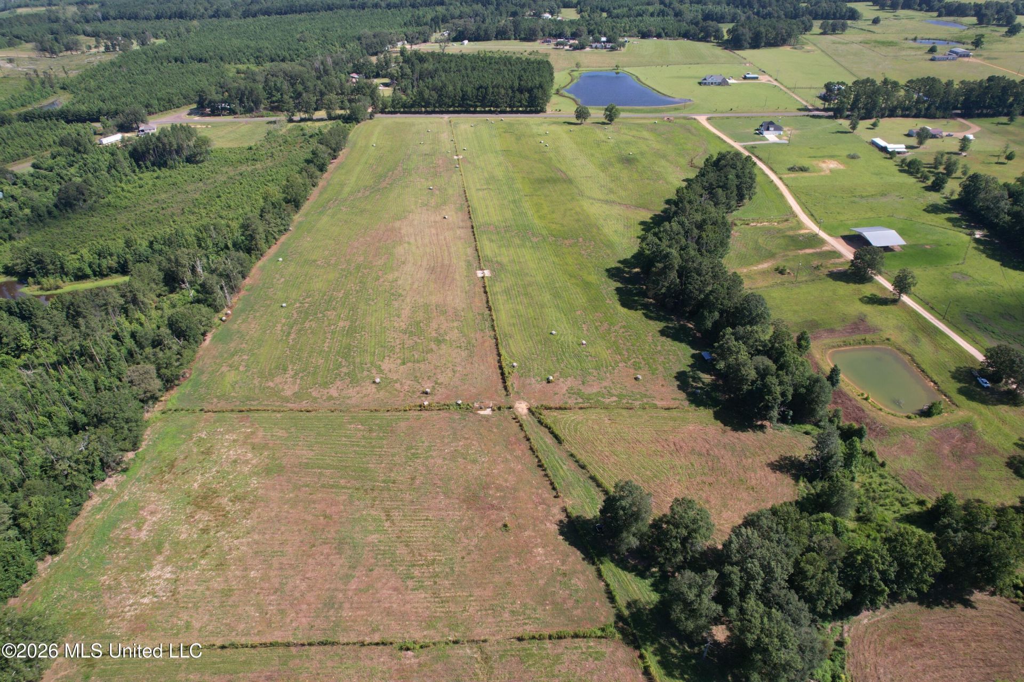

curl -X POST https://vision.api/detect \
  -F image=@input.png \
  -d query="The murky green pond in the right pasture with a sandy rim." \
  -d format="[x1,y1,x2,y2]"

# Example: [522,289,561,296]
[828,346,942,415]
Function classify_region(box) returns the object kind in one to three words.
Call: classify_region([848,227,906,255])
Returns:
barn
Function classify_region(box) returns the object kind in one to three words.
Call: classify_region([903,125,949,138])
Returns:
house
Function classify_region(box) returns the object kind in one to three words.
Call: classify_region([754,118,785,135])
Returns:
house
